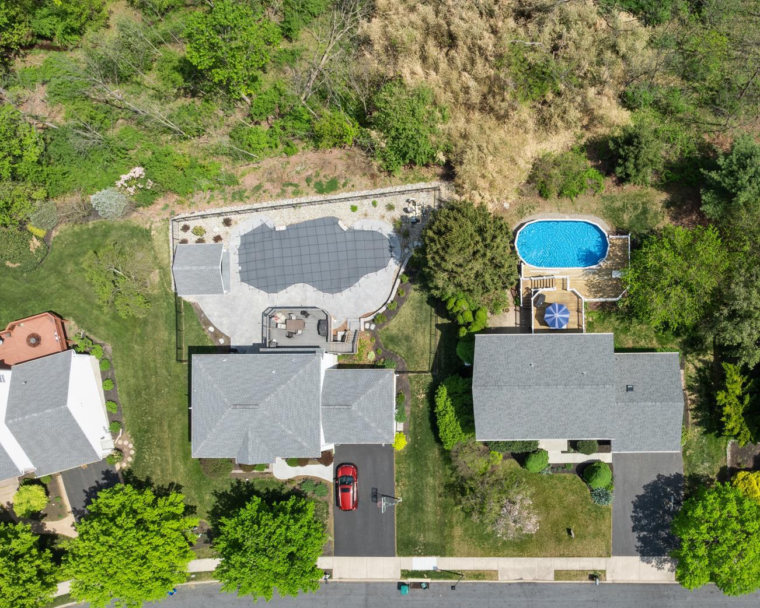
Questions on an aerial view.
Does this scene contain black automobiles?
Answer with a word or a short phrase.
No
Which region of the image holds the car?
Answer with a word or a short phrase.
bottom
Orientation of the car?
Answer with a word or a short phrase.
from top to bottom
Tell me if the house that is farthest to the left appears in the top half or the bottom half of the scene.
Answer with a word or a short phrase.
bottom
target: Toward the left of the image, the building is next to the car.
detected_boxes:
[191,349,398,467]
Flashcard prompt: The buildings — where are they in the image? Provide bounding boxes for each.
[0,348,127,485]
[472,333,684,453]
[191,349,398,467]
[172,242,230,296]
